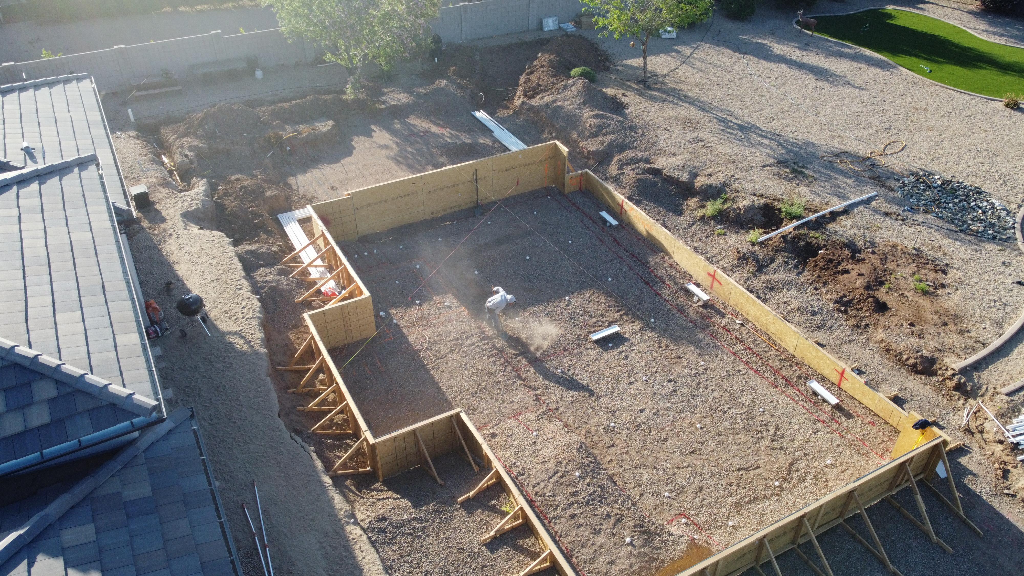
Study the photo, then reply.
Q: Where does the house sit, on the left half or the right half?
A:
left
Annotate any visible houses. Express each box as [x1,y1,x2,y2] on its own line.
[0,70,250,576]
